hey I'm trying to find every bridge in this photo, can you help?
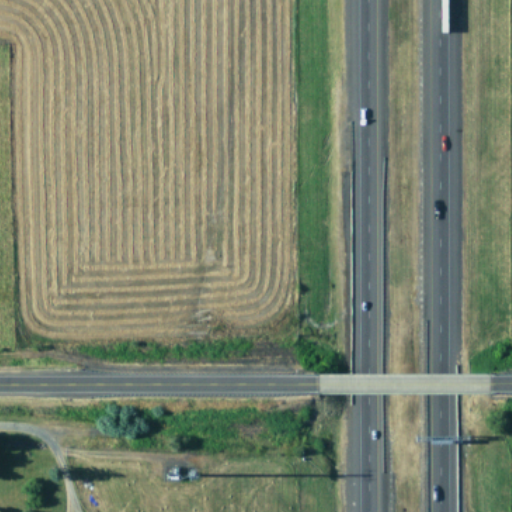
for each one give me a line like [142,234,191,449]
[320,374,491,394]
